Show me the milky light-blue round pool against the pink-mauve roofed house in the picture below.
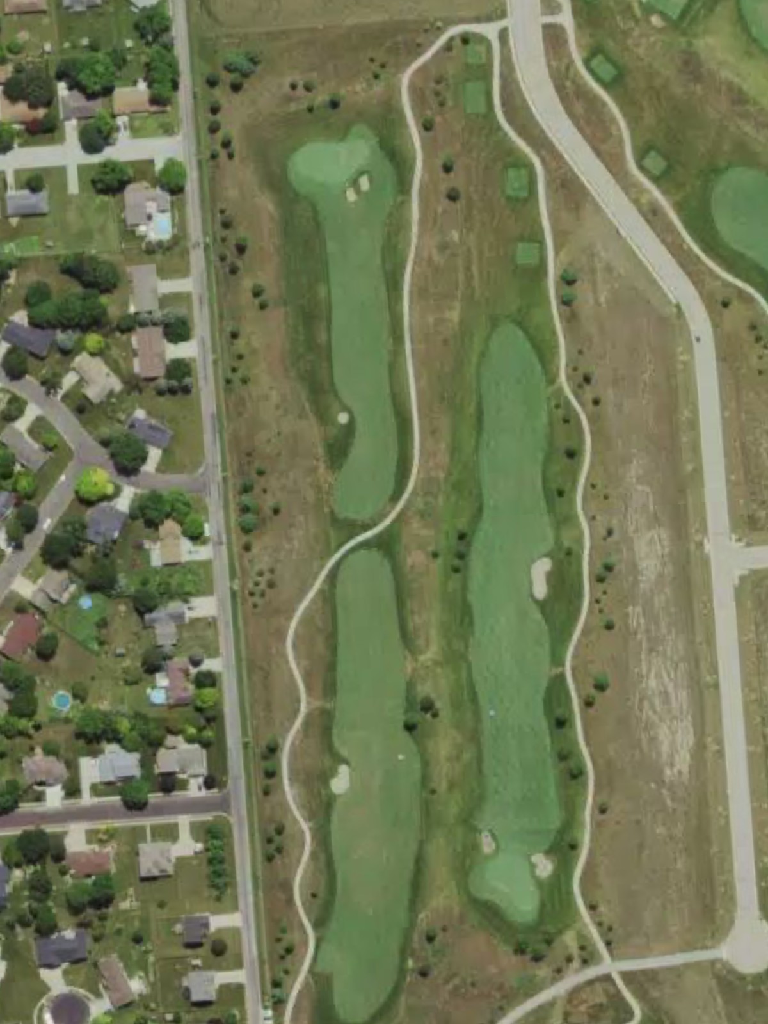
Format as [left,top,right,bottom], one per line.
[147,687,168,705]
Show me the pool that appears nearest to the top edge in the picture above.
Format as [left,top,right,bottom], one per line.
[153,212,172,240]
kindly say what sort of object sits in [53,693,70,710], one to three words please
swimming pool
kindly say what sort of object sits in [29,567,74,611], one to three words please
house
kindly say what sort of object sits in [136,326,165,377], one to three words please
house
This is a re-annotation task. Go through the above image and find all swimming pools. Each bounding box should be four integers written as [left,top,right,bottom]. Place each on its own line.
[147,687,168,705]
[79,596,92,608]
[153,212,172,240]
[53,693,70,710]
